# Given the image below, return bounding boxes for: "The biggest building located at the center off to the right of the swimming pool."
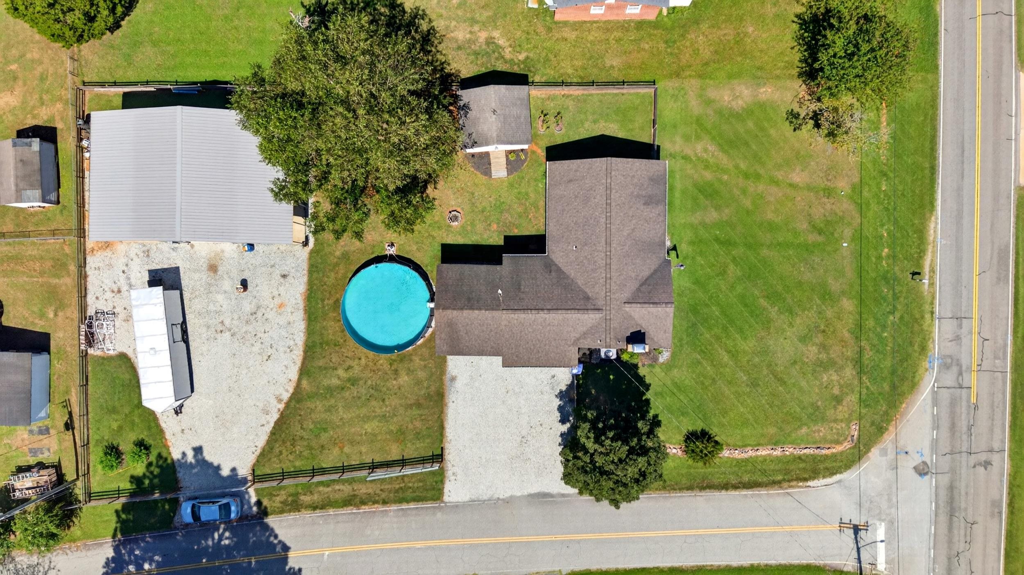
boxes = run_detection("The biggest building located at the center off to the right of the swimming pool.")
[433,158,674,368]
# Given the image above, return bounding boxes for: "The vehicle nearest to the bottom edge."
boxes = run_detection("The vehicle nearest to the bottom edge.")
[182,495,242,525]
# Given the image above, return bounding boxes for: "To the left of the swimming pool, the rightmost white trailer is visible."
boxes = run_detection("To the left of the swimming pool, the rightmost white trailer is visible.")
[130,286,187,424]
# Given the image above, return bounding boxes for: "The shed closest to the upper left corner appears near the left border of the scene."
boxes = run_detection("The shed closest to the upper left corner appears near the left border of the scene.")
[0,137,56,206]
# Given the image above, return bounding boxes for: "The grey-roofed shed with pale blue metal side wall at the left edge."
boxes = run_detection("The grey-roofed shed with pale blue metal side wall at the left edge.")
[0,351,49,428]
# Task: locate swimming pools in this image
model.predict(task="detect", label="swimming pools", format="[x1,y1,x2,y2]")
[340,261,434,356]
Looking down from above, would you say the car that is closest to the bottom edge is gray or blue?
blue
